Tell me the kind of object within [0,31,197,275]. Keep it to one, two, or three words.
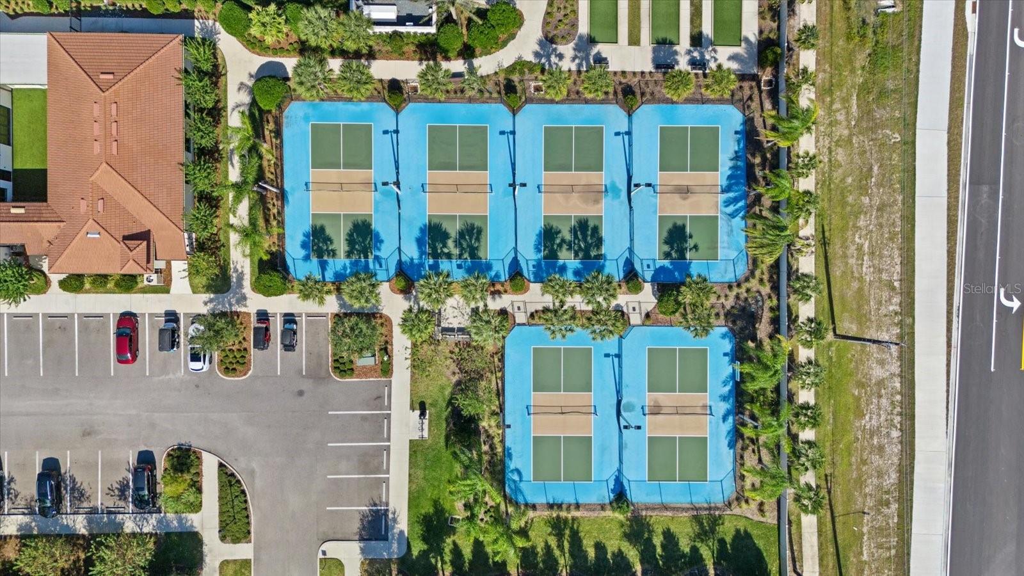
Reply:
building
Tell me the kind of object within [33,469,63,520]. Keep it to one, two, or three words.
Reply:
car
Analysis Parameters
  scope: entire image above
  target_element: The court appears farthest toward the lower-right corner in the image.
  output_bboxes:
[621,327,736,504]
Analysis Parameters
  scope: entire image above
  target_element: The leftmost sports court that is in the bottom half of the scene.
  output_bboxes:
[505,326,621,504]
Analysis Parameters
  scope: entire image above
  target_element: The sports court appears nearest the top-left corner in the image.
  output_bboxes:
[283,101,403,281]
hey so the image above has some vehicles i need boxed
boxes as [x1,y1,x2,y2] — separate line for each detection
[129,464,156,513]
[158,327,179,353]
[254,325,273,350]
[112,315,138,365]
[186,321,211,373]
[281,324,300,353]
[33,469,63,520]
